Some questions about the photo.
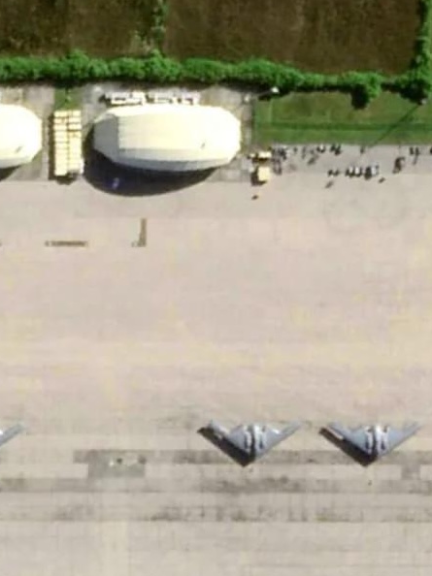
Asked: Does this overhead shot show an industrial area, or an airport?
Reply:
airport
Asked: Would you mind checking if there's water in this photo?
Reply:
No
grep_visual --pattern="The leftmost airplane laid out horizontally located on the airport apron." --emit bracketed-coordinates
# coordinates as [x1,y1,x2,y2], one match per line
[208,420,301,458]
